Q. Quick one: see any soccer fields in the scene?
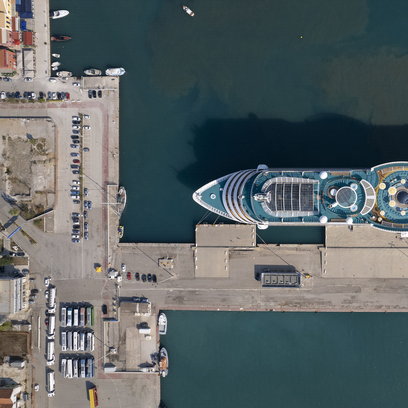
No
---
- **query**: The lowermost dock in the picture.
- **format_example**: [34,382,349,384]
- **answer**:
[119,242,408,353]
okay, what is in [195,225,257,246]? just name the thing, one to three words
pier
